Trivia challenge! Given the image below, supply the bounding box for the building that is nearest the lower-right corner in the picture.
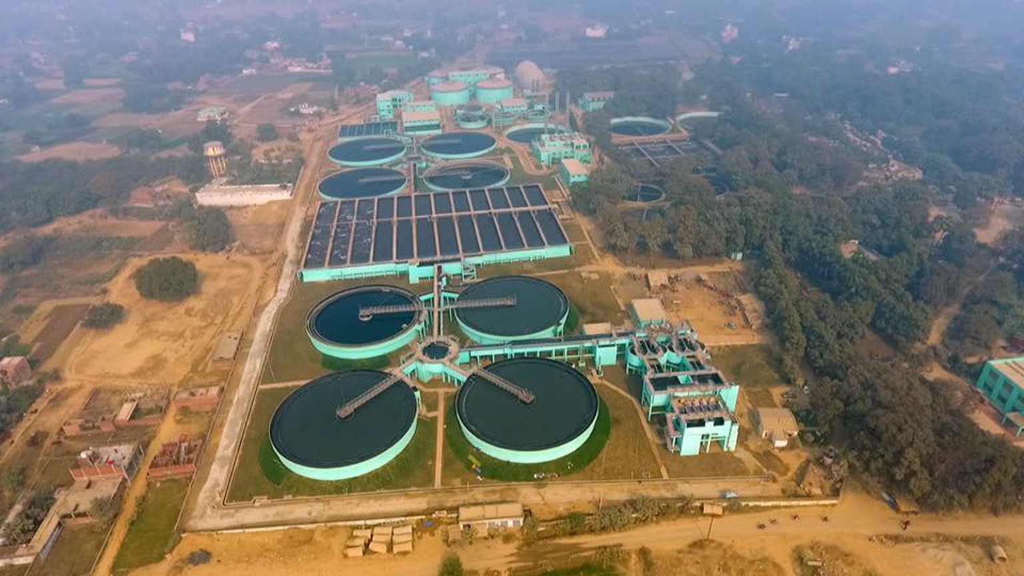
[974,359,1024,430]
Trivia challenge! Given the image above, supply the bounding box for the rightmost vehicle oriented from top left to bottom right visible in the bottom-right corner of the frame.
[880,490,905,511]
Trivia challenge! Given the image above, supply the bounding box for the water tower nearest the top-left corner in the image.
[203,143,231,181]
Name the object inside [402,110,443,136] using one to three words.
building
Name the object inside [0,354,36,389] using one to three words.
house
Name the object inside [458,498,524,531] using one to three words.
building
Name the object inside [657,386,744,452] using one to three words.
house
